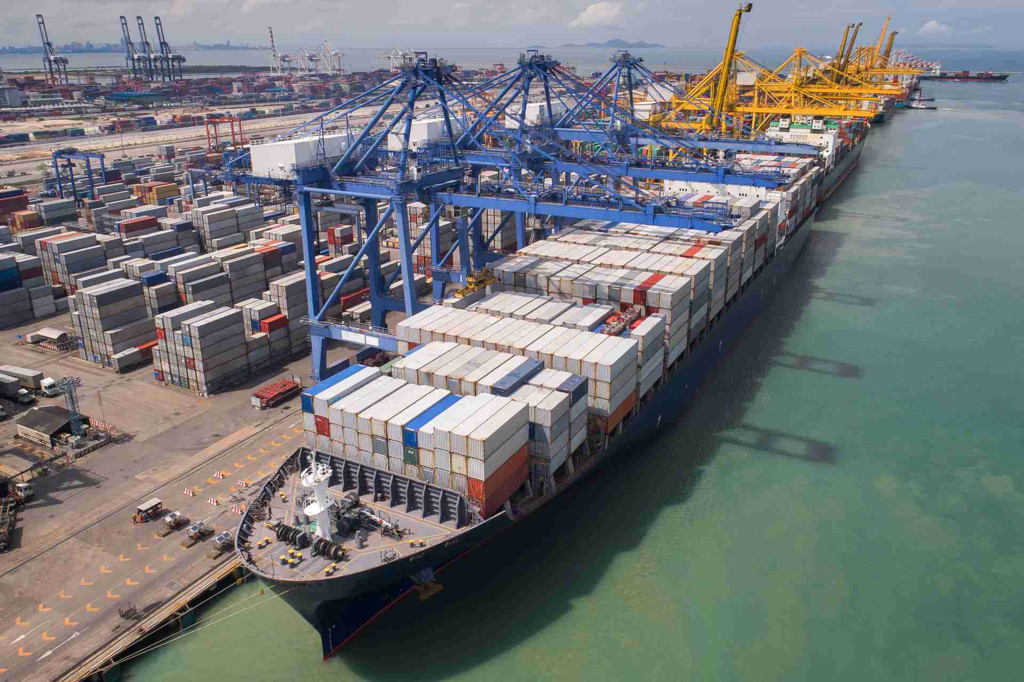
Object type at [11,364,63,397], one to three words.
truck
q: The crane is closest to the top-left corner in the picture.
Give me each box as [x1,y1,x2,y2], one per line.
[36,15,72,86]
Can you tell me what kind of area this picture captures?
port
